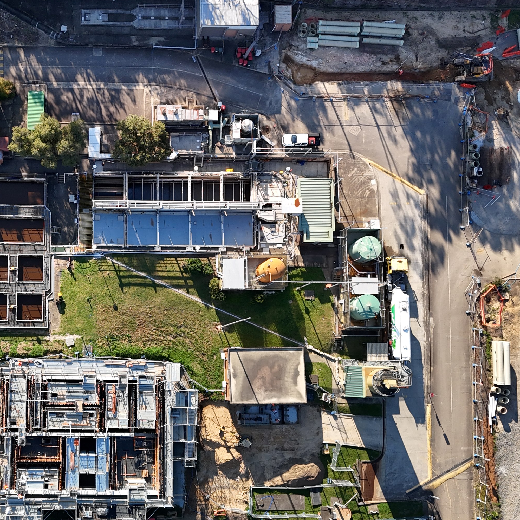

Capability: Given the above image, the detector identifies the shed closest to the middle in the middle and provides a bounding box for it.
[216,257,248,291]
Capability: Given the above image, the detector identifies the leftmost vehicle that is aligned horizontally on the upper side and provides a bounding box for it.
[283,132,319,148]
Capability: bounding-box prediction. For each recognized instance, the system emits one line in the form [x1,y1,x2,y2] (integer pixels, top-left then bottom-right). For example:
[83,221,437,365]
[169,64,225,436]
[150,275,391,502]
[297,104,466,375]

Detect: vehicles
[385,251,410,360]
[219,426,251,449]
[283,132,319,148]
[438,51,493,82]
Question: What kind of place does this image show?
industrial area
